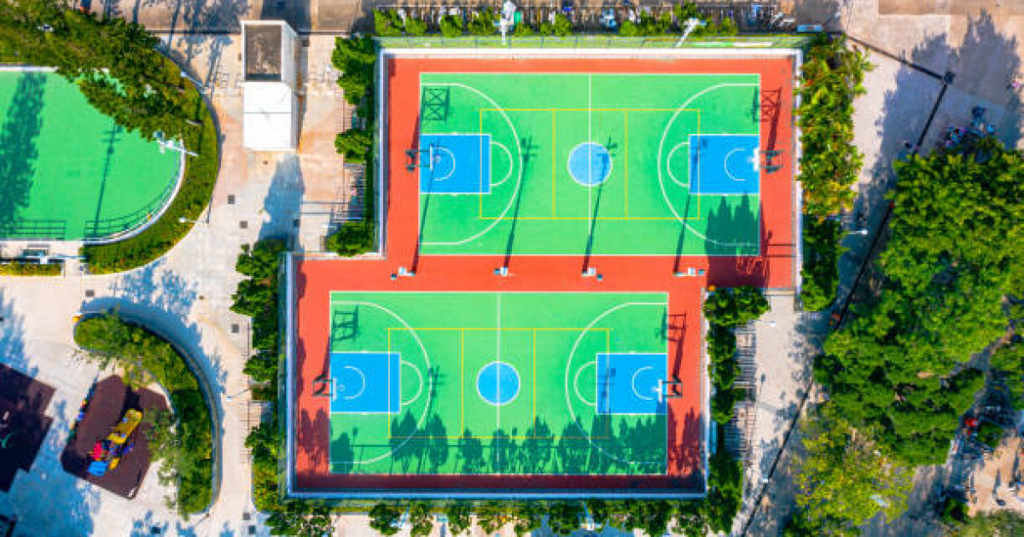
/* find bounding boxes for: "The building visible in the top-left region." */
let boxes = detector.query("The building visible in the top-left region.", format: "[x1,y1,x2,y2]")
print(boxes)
[241,20,299,155]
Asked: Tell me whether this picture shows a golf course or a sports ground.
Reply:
sports ground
